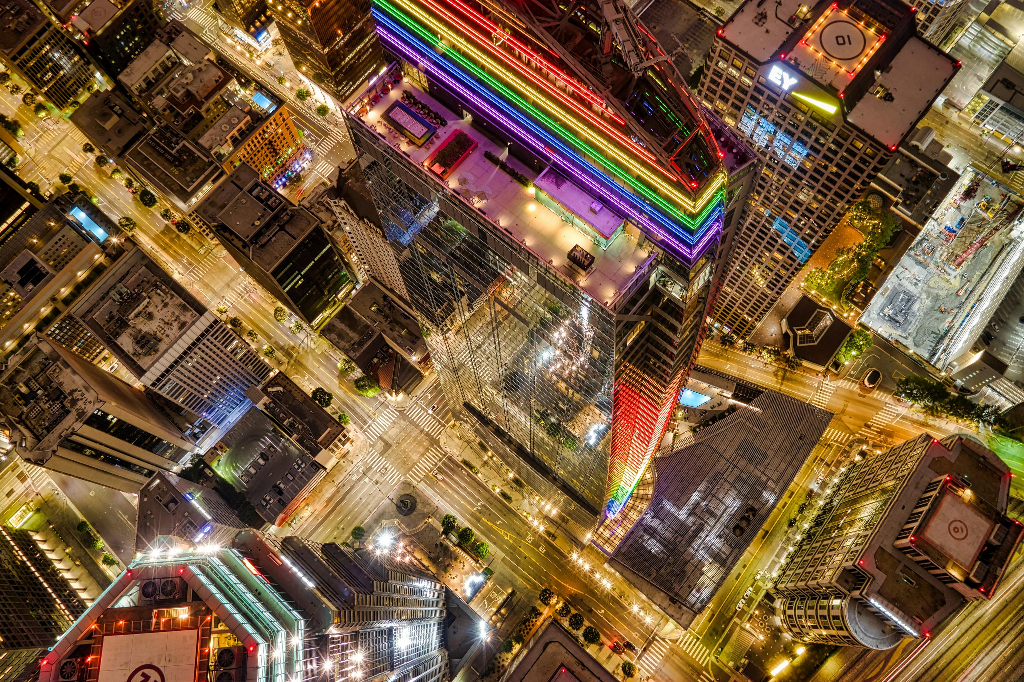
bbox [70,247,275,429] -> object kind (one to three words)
building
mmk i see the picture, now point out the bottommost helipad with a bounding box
[98,628,201,682]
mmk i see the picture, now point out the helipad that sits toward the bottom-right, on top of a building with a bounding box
[919,492,994,572]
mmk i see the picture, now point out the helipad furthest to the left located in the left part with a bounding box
[78,0,125,39]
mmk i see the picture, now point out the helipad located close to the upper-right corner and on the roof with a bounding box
[801,4,887,77]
